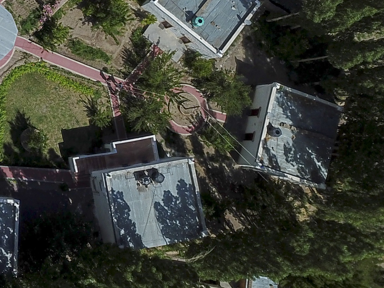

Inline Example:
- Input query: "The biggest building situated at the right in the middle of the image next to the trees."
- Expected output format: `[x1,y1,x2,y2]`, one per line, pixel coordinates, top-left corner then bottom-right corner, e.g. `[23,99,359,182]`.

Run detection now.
[235,81,343,188]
